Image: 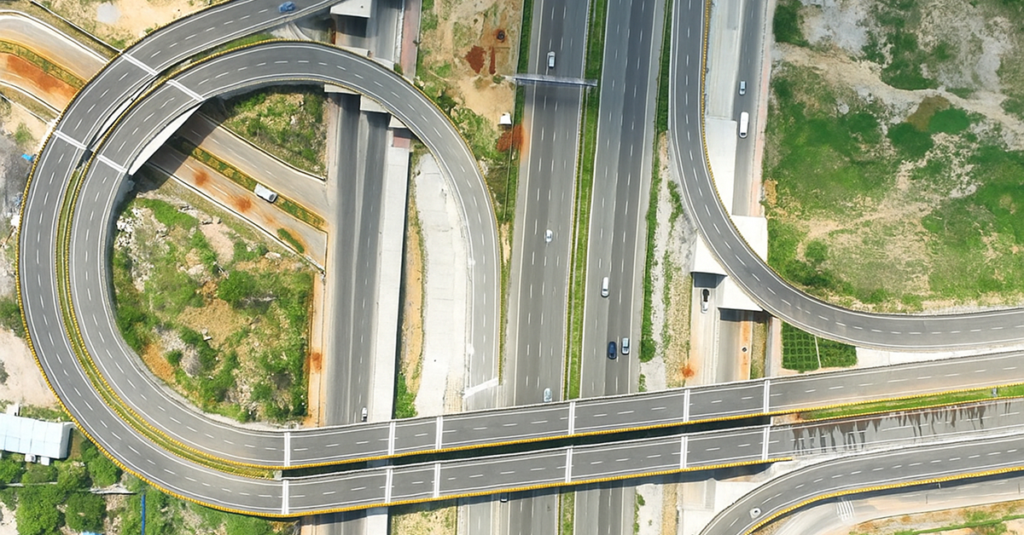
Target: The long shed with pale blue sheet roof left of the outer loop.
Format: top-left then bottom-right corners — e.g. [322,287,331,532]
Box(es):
[0,411,76,459]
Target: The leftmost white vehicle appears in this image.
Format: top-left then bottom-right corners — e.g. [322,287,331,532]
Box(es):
[252,183,279,204]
